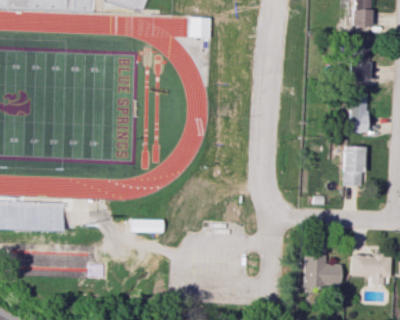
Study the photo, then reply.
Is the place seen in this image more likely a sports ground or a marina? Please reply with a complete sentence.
What you see here is a sports ground.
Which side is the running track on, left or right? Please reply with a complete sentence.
The running track sits on the left side.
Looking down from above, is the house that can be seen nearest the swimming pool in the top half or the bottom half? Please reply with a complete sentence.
You can find the house that can be seen nearest the swimming pool in the bottom half.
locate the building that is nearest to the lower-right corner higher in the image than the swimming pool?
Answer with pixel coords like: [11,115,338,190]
[350,256,392,286]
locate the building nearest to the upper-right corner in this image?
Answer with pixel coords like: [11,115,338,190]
[354,0,374,28]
